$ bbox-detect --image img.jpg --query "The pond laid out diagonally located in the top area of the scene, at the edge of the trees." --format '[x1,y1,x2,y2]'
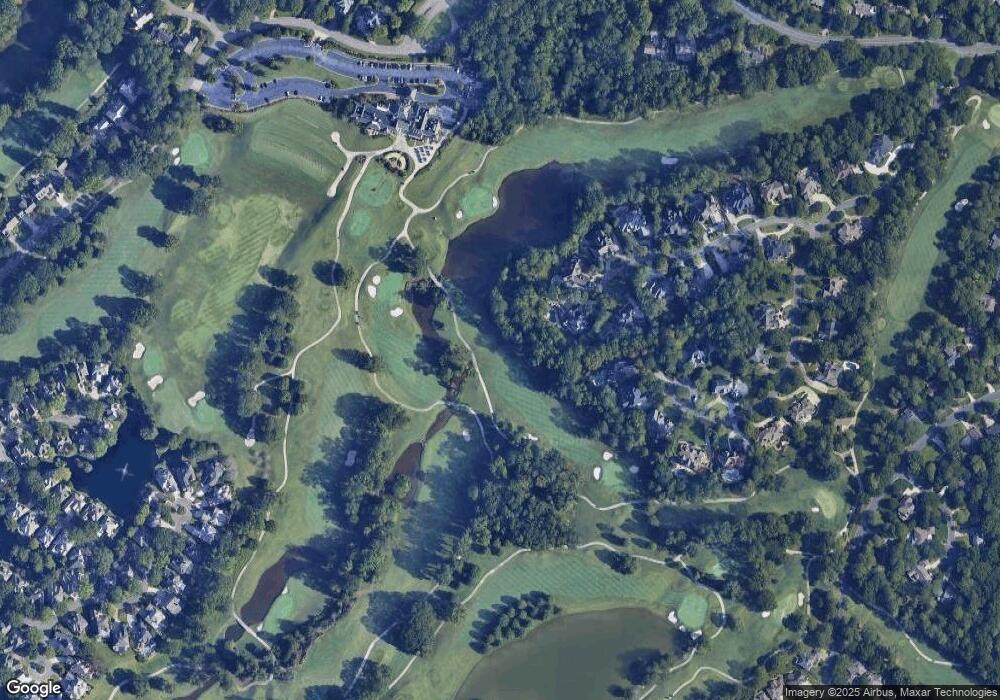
[440,162,598,338]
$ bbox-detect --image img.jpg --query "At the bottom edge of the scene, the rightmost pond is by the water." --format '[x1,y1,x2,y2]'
[456,606,688,700]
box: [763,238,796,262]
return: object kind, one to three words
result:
house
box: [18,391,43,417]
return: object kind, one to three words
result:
house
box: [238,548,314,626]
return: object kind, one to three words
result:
pond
